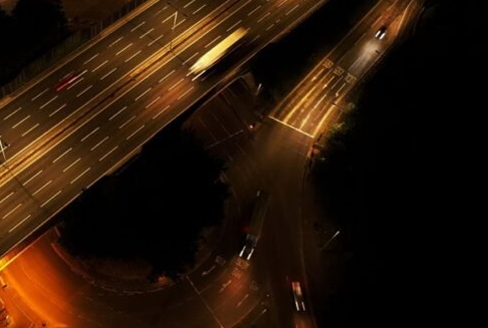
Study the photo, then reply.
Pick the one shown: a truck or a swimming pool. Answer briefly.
truck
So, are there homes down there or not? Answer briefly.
No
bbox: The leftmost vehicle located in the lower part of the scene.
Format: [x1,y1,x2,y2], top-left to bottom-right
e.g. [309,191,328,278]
[241,191,269,258]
